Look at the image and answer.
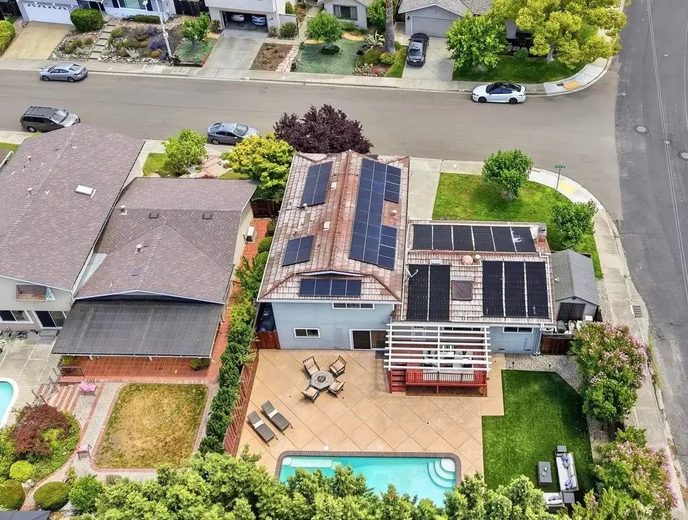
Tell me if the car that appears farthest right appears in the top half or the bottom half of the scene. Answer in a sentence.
The car that appears farthest right sits in the top half of the picture.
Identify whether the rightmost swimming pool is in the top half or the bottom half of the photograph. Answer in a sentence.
It is in the bottom half that the rightmost swimming pool appears.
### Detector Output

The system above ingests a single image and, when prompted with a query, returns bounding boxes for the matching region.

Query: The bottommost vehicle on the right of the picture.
[471,80,527,104]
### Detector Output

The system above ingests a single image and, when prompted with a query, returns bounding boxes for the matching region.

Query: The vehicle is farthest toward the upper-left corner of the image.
[32,59,90,83]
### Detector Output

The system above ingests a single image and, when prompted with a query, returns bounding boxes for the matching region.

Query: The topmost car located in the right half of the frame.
[405,30,429,62]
